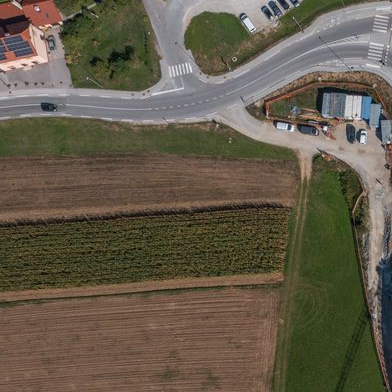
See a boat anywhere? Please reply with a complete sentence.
No, the picture doesn't show any boat.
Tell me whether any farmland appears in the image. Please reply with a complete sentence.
Yes, farmland can be seen from above here.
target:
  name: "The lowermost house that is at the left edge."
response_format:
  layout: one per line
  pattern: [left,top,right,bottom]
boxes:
[0,25,48,73]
